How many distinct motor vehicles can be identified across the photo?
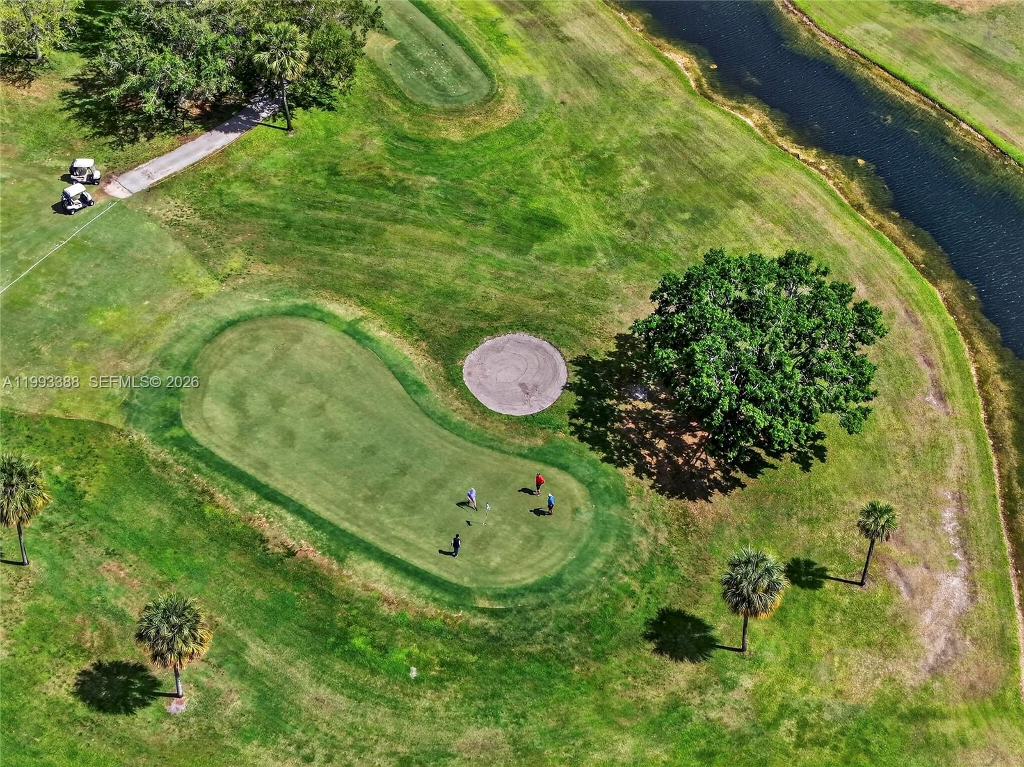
two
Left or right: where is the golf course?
left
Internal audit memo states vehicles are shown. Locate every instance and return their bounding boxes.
[61,181,95,213]
[70,156,104,185]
